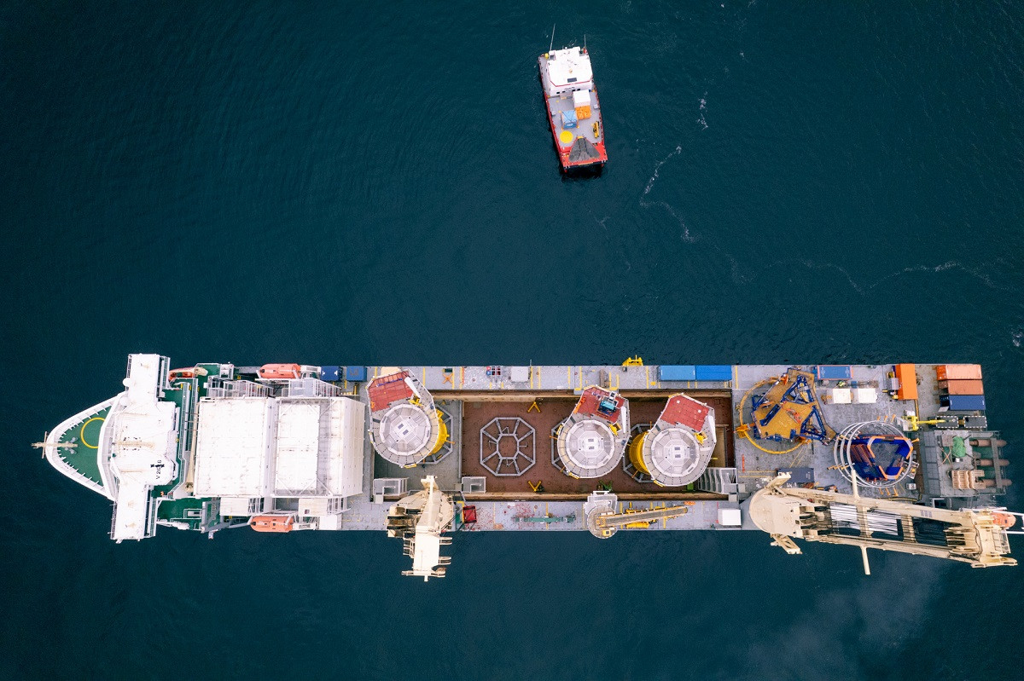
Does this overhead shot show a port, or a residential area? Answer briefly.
port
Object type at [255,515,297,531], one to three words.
boat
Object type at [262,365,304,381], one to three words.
boat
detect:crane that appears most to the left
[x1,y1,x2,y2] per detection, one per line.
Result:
[183,401,199,493]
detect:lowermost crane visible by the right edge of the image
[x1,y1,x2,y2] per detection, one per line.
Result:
[730,460,1016,575]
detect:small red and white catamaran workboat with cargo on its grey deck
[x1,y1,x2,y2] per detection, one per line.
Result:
[535,24,608,174]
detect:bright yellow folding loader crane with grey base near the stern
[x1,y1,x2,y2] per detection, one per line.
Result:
[892,410,945,431]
